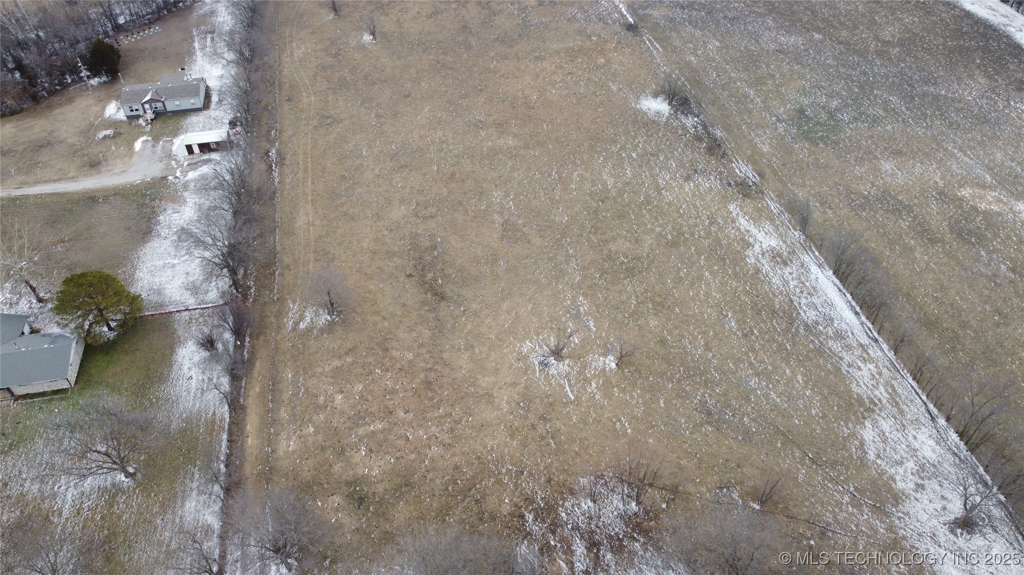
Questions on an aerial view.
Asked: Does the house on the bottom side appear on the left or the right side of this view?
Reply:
left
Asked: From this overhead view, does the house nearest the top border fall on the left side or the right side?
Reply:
left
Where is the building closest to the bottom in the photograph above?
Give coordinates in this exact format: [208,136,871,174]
[0,312,89,399]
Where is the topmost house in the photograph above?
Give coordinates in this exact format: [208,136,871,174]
[120,75,213,122]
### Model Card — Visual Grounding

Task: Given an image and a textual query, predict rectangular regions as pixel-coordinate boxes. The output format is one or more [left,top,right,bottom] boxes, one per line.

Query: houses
[120,75,213,122]
[0,312,89,399]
